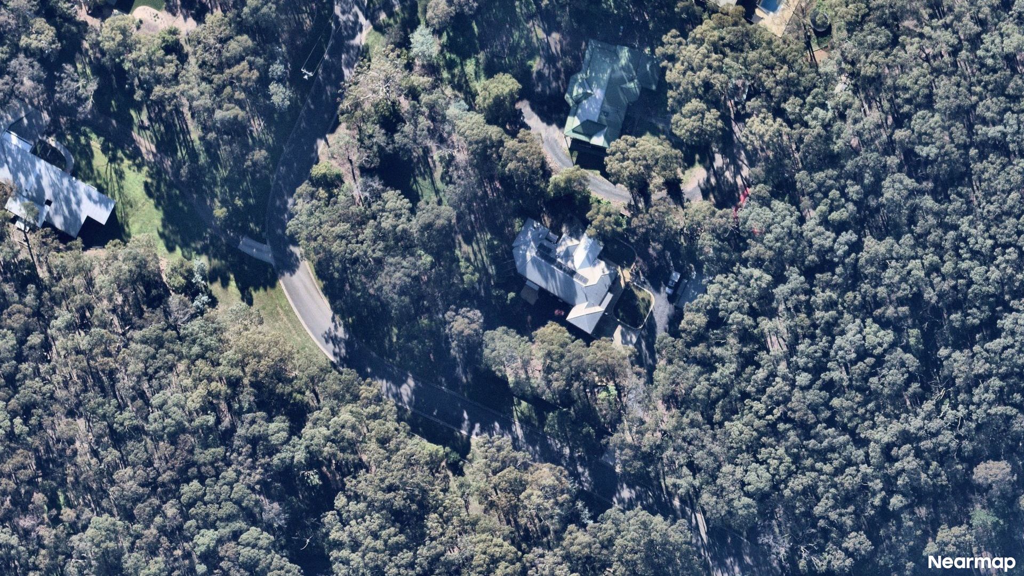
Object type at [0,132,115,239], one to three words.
house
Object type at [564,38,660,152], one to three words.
house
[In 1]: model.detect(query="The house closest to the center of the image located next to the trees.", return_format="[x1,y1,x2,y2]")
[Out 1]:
[512,217,618,336]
